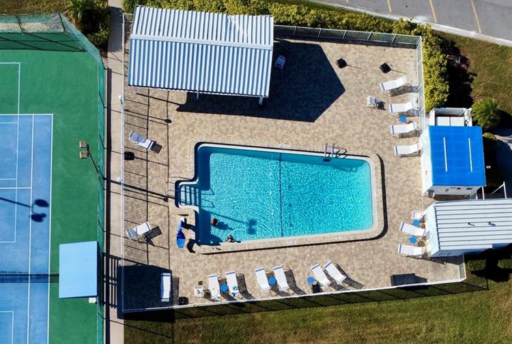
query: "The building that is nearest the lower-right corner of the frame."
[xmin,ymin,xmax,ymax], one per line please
[426,198,512,257]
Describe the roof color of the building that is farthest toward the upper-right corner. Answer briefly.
blue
